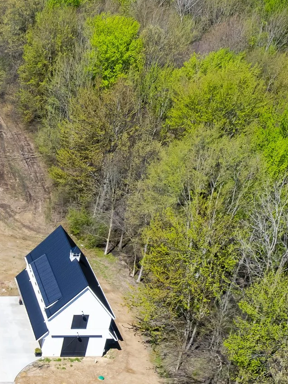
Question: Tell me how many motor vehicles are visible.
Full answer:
I count no motor vehicles.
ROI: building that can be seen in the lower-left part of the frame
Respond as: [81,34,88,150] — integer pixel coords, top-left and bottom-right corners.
[12,224,118,356]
